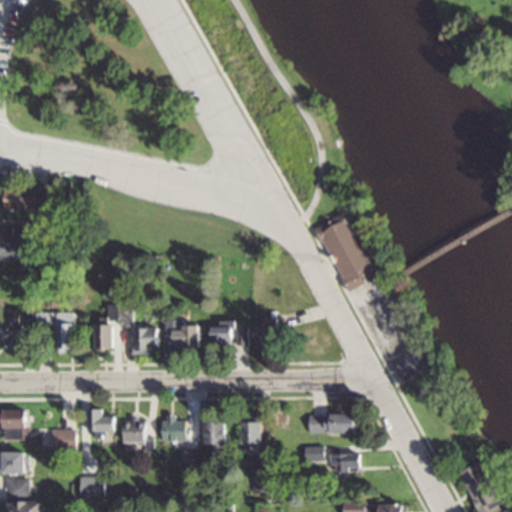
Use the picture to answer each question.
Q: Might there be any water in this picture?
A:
Yes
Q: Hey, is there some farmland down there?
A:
No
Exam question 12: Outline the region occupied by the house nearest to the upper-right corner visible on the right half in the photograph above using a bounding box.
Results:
[322,213,373,288]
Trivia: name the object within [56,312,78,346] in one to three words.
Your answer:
house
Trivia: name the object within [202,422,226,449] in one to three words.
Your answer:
house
